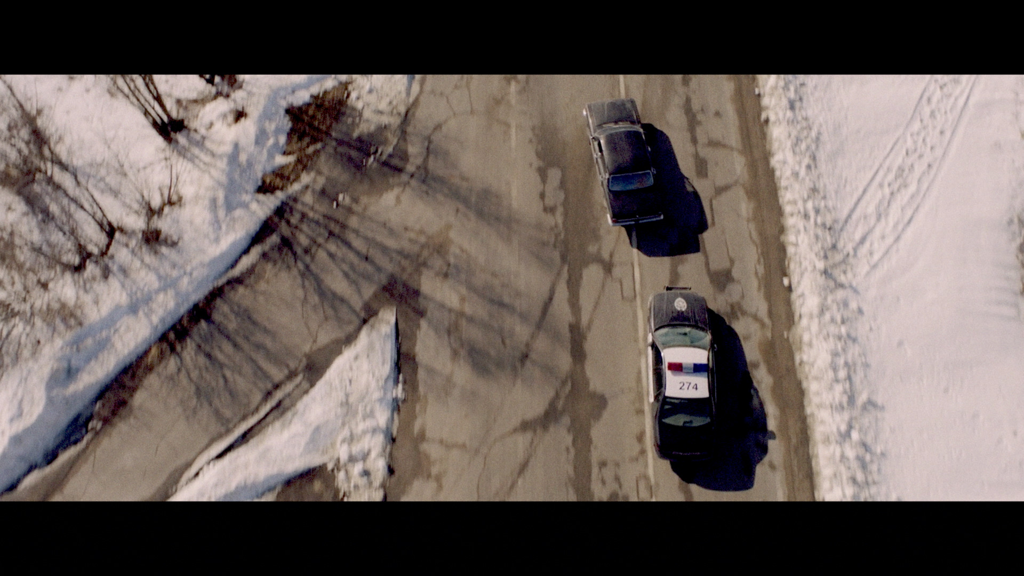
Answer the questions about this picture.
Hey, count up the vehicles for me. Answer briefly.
2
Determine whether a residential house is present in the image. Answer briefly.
No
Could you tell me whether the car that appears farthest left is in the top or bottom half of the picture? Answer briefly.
top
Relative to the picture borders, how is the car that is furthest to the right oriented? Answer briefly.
from top to bottom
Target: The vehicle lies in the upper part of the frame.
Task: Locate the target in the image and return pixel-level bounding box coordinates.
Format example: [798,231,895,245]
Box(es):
[583,97,664,231]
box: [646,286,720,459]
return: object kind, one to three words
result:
car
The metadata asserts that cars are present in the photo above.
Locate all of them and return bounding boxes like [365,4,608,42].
[646,286,720,459]
[583,97,664,231]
